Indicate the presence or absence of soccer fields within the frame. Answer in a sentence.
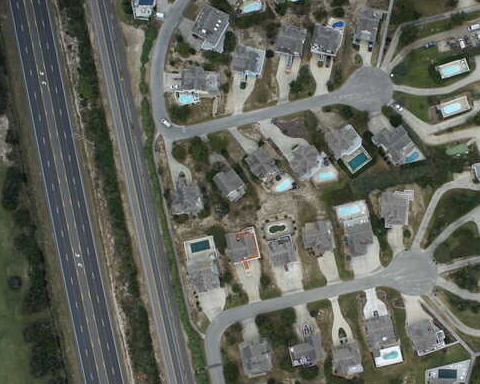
No, the scene contains no soccer field.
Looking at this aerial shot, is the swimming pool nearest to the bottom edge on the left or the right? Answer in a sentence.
The swimming pool nearest to the bottom edge is on the right side of the image.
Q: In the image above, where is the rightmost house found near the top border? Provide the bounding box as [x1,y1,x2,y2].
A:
[355,6,381,41]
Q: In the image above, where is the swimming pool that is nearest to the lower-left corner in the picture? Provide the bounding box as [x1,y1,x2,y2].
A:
[185,237,218,261]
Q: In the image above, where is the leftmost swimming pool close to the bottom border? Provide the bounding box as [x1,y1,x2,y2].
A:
[375,344,403,367]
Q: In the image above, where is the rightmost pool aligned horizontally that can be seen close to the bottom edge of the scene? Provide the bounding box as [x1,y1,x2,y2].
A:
[427,359,471,384]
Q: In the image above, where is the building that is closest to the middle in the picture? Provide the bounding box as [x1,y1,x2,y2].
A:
[215,167,246,202]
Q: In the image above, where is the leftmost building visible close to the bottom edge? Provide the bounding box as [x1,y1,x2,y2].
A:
[239,340,272,377]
